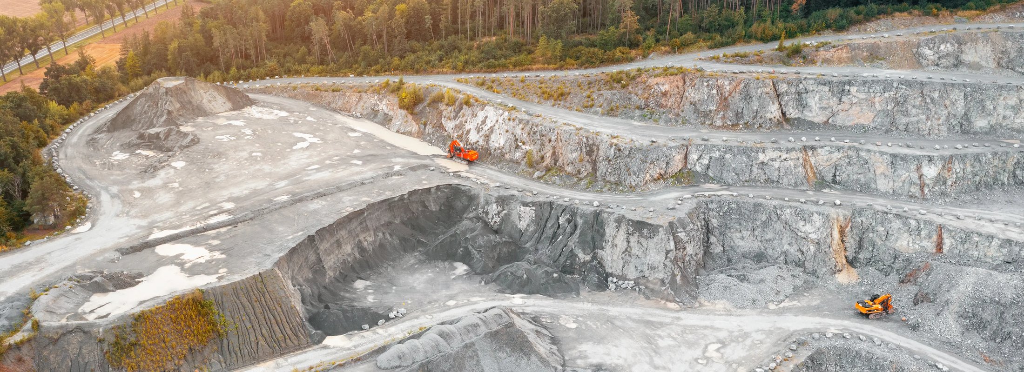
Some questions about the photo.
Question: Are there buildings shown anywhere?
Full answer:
No, no building can be seen from above.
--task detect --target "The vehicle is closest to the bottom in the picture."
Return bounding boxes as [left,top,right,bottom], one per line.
[856,292,895,321]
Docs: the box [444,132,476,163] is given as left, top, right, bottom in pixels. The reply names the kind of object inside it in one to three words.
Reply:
work vehicle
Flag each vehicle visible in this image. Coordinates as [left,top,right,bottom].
[856,292,895,321]
[444,132,476,163]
